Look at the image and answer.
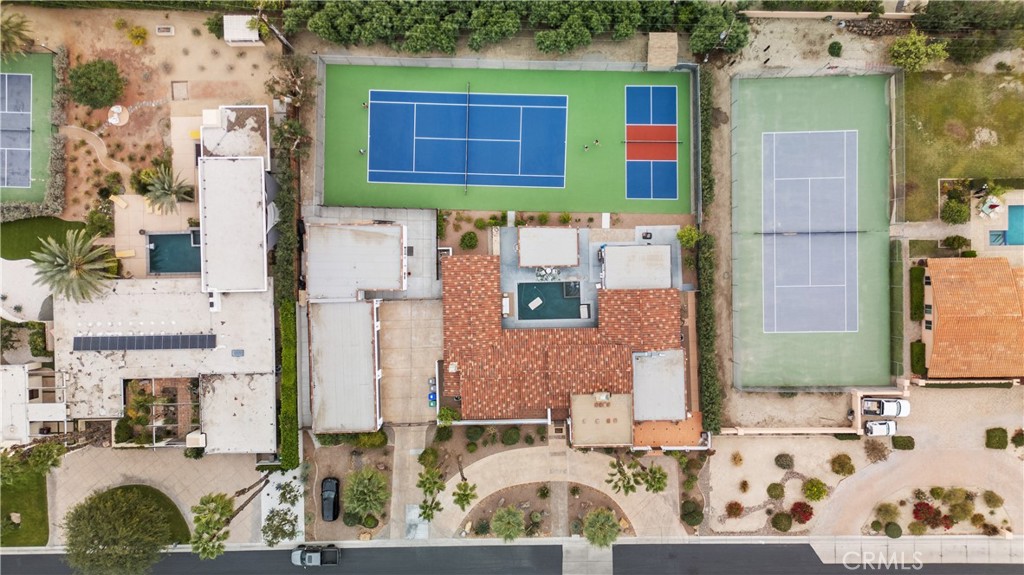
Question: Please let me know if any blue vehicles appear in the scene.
No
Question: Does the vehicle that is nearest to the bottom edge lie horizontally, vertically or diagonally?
horizontally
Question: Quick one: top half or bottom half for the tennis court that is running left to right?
top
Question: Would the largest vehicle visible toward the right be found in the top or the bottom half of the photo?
bottom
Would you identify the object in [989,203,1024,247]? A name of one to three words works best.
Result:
swimming pool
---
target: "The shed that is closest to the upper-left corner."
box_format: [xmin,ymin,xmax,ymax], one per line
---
[223,15,264,47]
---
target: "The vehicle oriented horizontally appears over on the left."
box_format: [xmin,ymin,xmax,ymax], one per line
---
[292,545,342,569]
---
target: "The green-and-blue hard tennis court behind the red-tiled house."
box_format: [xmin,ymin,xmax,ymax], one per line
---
[323,65,626,213]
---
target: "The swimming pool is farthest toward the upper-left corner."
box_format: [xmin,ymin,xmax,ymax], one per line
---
[145,229,201,276]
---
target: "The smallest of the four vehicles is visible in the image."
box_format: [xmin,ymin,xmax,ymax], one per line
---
[864,420,896,438]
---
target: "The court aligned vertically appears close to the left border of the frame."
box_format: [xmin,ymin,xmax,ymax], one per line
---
[0,54,52,205]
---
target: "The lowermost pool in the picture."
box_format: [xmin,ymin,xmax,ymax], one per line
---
[515,279,583,322]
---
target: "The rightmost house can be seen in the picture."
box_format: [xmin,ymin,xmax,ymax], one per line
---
[921,258,1024,378]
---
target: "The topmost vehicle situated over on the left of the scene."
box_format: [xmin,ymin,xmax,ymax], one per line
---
[319,477,341,521]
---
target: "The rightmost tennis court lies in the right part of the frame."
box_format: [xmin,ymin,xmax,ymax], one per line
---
[733,74,891,387]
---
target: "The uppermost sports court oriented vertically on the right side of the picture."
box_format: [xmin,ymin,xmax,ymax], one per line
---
[626,70,692,214]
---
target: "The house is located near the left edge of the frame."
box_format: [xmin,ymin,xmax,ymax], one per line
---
[0,106,279,453]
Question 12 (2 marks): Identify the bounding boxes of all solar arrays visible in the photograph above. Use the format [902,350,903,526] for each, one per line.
[74,335,216,350]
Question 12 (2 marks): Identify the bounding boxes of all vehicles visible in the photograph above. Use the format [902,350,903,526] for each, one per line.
[863,398,910,419]
[319,477,341,521]
[864,420,896,438]
[292,545,342,569]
